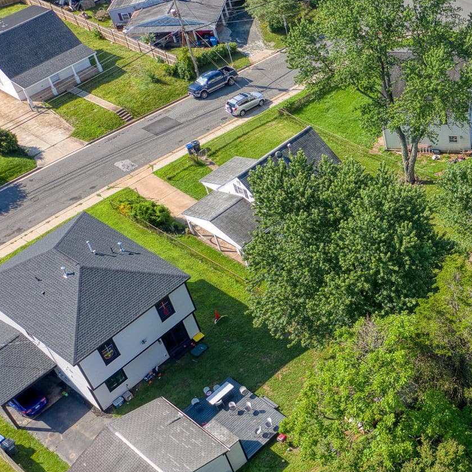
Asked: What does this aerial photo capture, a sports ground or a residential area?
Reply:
residential area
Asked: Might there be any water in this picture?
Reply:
No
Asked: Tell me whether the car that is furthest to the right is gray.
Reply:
Yes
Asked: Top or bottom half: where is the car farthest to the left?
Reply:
bottom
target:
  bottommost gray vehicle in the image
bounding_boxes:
[222,89,267,117]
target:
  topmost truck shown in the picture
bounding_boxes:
[184,64,238,98]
